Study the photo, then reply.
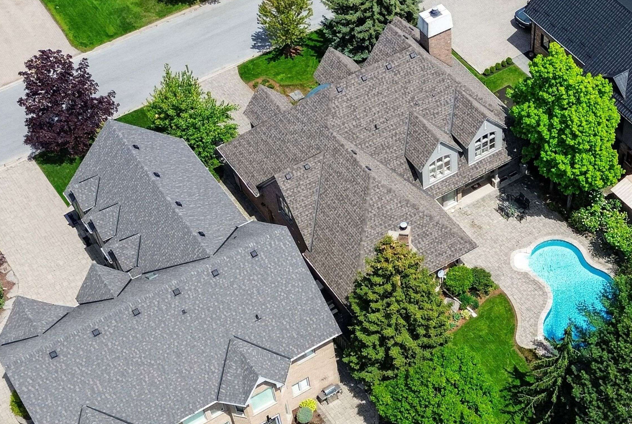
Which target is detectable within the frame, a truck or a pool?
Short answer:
pool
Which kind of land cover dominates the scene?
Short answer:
buildings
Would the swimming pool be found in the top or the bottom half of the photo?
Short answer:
bottom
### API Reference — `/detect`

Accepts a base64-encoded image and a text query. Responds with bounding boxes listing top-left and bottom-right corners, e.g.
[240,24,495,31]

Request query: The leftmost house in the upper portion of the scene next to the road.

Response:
[216,4,541,322]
